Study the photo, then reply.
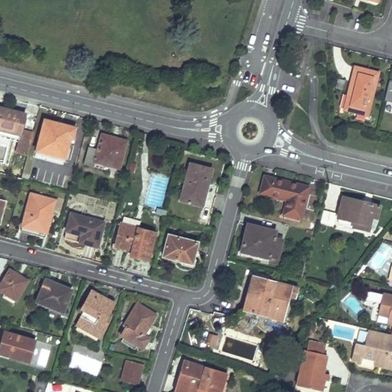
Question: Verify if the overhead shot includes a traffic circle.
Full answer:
Yes, there's a traffic circle here.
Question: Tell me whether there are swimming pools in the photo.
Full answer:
Yes, the frame does contain a swimming pool.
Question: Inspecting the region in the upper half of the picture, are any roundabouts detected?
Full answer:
Yes, there is a roundabout in the upper half of the picture.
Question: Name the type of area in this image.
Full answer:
The picture captures a residential area.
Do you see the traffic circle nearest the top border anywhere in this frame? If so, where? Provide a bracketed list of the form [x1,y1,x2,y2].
[223,104,278,158]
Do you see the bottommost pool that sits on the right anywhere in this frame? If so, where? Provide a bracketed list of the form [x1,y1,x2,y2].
[222,336,258,362]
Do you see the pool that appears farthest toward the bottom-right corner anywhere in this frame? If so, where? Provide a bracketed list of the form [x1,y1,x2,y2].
[332,325,356,341]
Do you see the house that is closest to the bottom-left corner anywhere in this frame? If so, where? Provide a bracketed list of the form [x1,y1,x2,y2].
[0,331,37,365]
